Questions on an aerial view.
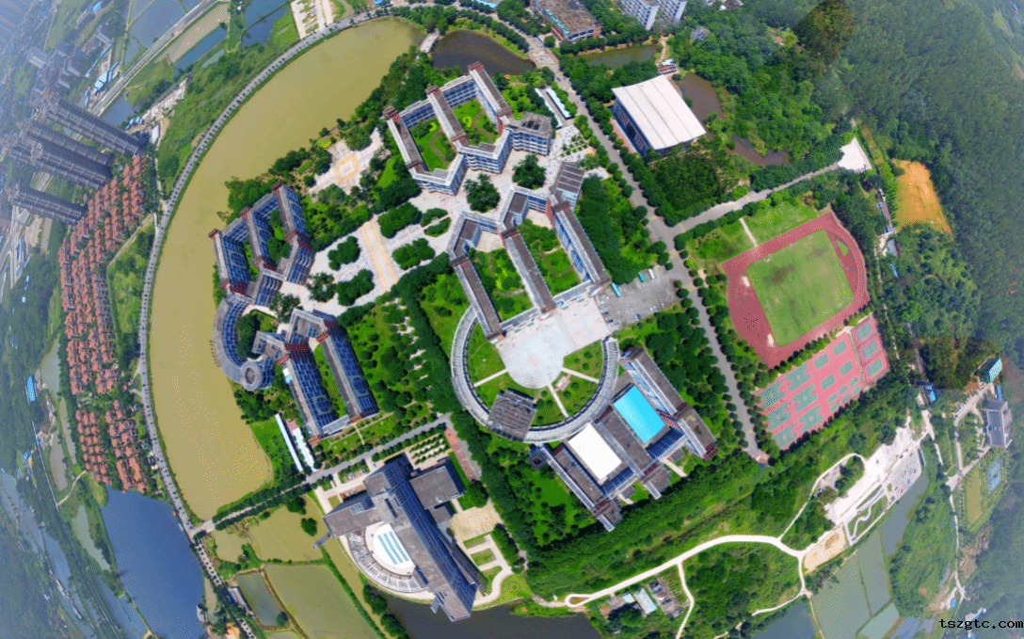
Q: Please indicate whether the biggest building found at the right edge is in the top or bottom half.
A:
bottom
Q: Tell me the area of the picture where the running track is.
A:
right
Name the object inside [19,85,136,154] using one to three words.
building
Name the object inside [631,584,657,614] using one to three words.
shed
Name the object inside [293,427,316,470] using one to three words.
shed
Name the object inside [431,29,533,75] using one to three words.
pond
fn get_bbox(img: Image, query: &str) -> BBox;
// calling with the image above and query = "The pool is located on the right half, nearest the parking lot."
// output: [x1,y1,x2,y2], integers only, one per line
[613,384,667,445]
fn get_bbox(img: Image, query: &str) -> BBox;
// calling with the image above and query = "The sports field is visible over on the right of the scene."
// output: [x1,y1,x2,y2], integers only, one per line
[746,230,856,347]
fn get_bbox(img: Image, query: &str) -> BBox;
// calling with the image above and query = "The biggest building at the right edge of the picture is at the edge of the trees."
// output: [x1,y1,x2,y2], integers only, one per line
[978,399,1015,446]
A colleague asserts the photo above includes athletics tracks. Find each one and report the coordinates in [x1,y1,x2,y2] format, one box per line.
[721,209,870,364]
